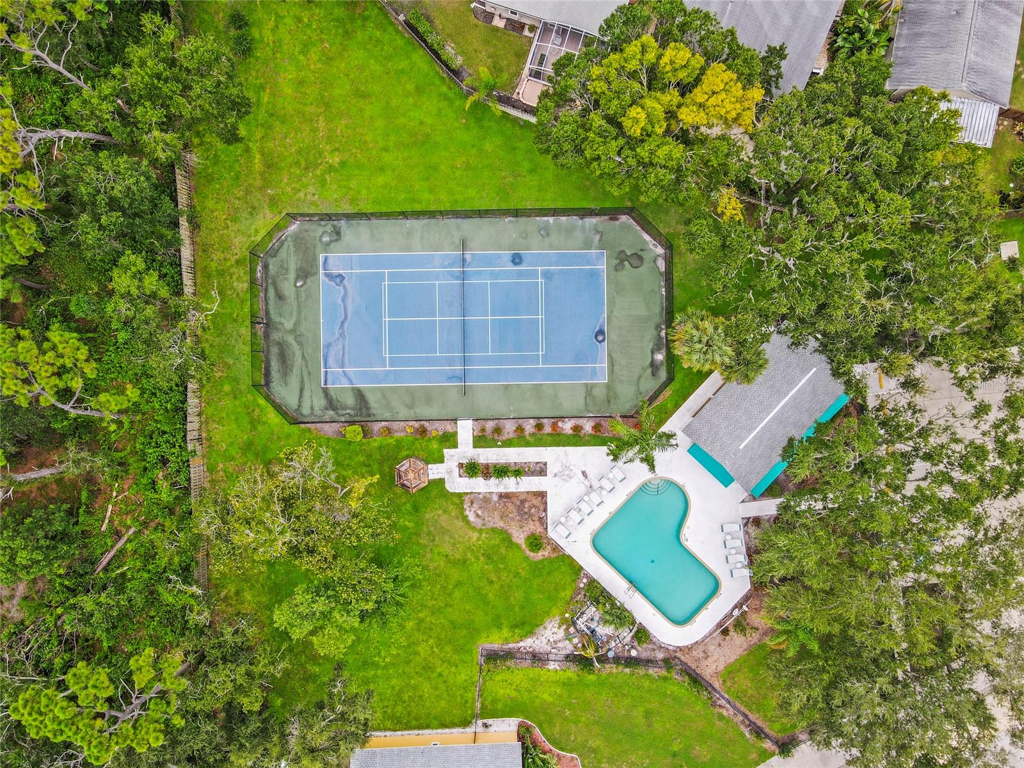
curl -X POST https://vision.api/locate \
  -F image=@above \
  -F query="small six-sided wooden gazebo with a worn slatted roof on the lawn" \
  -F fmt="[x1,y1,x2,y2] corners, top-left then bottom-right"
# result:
[394,456,430,494]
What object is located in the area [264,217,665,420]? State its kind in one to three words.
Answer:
tennis court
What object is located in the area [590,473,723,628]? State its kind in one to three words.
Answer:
swimming pool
